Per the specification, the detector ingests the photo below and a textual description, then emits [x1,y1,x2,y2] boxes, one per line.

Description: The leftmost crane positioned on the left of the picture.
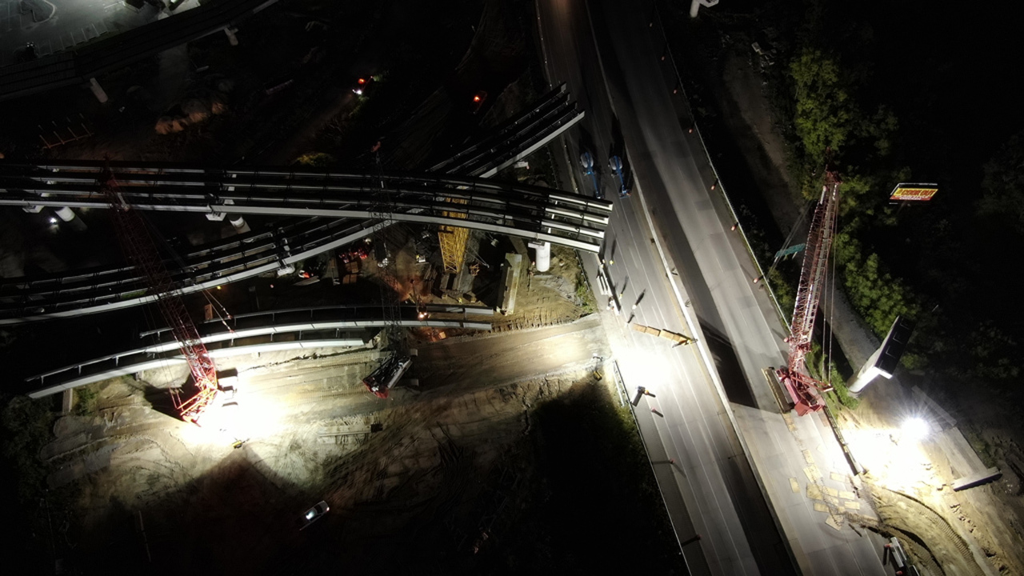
[104,165,221,427]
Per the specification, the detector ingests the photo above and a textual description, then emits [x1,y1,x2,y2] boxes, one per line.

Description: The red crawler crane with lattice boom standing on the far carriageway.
[775,168,840,416]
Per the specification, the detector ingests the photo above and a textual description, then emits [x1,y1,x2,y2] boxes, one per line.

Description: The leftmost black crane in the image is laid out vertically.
[364,140,418,392]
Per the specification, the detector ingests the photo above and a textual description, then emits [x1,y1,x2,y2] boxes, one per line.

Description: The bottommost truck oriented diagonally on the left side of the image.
[296,500,329,529]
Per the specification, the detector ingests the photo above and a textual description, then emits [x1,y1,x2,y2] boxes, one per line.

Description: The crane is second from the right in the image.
[440,185,487,294]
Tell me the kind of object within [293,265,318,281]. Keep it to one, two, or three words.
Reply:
work vehicle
